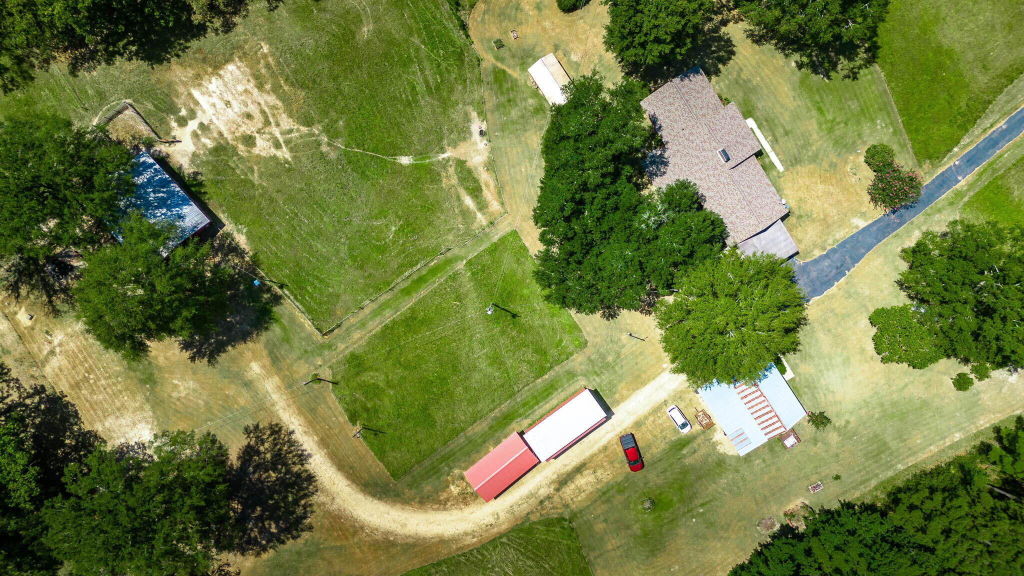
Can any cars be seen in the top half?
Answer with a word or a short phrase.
No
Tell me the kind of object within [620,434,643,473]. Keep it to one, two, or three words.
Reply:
truck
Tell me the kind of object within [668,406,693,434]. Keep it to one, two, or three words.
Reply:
car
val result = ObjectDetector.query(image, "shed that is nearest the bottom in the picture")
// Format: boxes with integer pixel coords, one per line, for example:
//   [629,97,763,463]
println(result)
[464,432,539,502]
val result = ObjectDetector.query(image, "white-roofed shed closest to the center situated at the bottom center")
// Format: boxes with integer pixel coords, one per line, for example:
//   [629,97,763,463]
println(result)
[522,386,608,462]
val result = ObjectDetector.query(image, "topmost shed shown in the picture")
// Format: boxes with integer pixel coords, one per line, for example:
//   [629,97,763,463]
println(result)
[528,54,571,107]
